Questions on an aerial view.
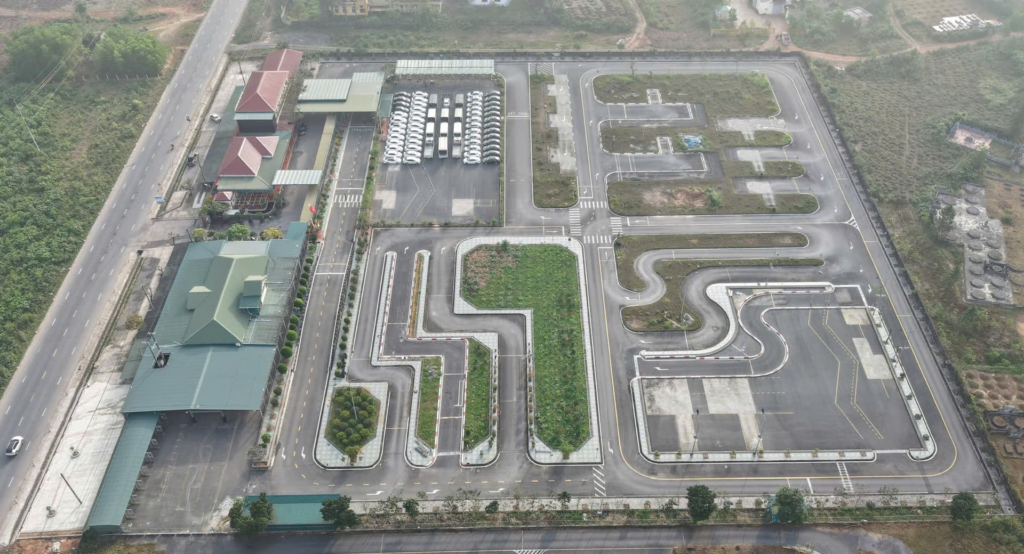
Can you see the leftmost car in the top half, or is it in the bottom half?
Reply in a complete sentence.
The bottom half of the photo is where the leftmost car is.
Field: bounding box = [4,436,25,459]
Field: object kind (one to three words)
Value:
car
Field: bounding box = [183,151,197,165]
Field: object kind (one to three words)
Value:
vehicle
